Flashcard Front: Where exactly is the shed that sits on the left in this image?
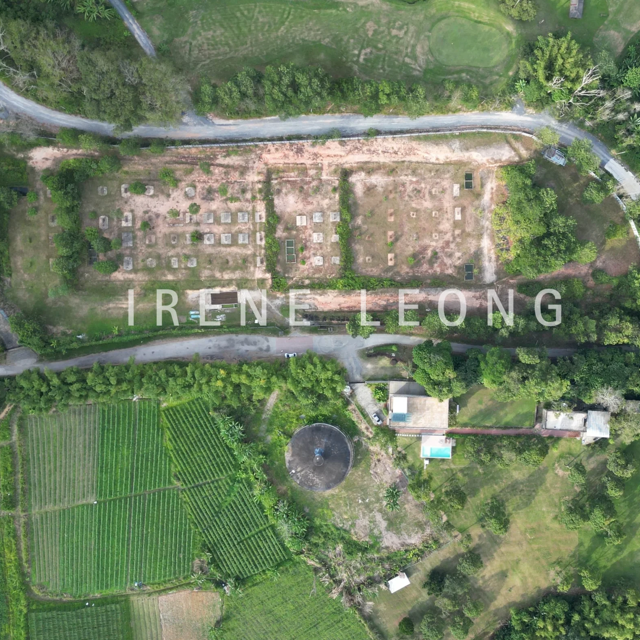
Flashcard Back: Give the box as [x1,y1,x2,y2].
[211,292,238,304]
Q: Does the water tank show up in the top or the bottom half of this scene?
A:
bottom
